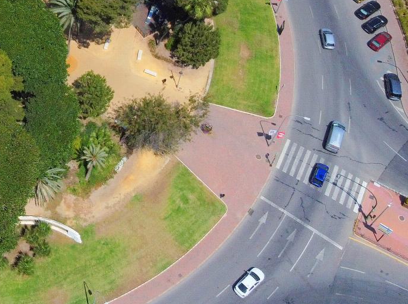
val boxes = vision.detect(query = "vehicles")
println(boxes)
[308,159,330,193]
[232,265,264,301]
[324,121,347,156]
[365,31,396,52]
[359,14,389,35]
[354,0,382,20]
[318,26,336,53]
[381,73,403,102]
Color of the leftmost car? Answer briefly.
white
